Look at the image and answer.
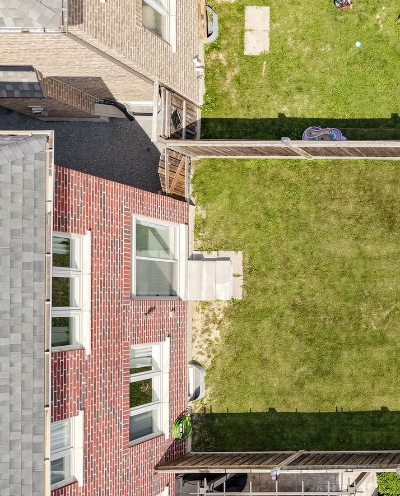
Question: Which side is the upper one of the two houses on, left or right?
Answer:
left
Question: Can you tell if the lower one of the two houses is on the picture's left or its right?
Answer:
left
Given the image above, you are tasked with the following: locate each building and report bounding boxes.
[0,131,192,496]
[0,0,204,125]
